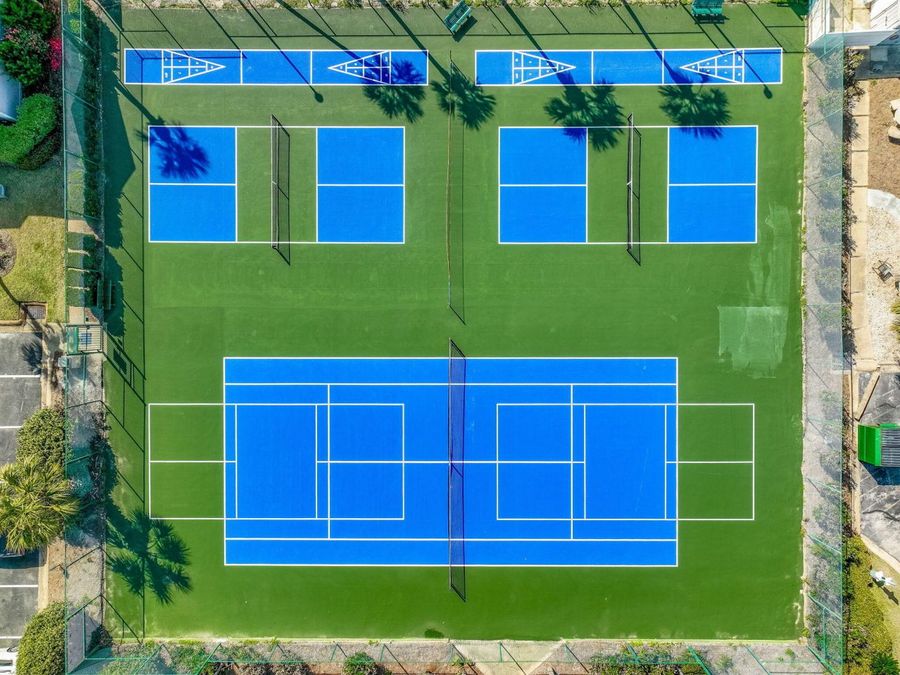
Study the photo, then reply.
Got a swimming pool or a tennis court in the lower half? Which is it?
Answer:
tennis court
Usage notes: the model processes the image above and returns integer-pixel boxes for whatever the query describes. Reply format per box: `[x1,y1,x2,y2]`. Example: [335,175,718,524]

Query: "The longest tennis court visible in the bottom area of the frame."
[223,358,679,568]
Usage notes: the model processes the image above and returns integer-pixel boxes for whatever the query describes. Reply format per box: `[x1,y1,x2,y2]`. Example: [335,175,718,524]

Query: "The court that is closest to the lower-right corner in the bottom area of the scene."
[497,403,756,520]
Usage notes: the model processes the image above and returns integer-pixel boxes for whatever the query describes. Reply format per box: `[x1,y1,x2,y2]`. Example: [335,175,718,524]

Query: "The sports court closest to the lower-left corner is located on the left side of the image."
[147,403,403,520]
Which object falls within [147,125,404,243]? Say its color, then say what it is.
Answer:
blue sports court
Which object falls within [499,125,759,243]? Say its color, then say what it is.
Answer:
blue sports court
